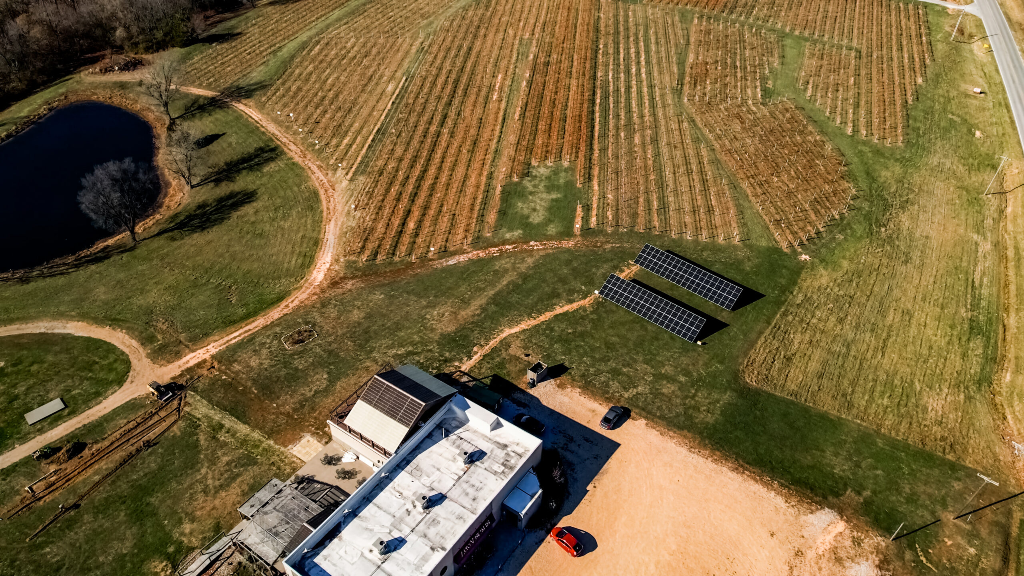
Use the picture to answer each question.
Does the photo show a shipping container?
Yes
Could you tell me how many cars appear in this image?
three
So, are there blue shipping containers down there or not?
No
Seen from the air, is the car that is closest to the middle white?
No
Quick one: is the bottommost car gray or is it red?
red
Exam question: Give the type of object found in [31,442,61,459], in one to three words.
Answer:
work vehicle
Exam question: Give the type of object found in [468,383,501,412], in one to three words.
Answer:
shipping container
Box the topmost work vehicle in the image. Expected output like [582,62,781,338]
[148,376,170,402]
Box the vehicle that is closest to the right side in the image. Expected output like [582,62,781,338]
[597,403,624,428]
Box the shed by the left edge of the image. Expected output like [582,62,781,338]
[24,396,63,423]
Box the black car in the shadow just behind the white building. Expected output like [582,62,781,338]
[509,410,543,432]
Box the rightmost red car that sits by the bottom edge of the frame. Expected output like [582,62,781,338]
[545,530,580,559]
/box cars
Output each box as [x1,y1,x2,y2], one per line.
[509,410,543,432]
[545,530,580,559]
[597,403,624,428]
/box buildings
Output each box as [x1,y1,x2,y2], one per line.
[24,396,63,423]
[283,391,544,576]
